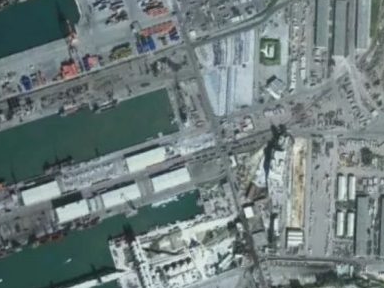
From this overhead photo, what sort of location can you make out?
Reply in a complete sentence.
This looks like a port.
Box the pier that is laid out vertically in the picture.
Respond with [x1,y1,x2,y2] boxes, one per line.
[109,235,133,288]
